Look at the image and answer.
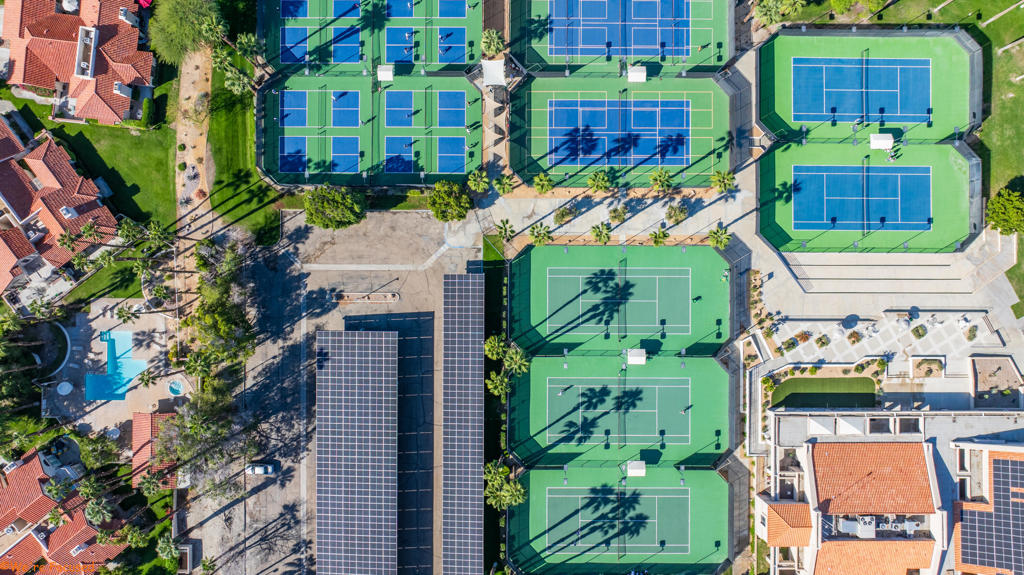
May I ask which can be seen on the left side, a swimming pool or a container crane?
swimming pool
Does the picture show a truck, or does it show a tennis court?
tennis court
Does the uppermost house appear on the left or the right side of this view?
left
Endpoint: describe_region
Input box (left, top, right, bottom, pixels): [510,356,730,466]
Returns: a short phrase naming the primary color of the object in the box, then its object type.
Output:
green tennis court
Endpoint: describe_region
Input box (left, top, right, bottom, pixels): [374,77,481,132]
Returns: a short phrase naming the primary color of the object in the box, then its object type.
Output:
green sports court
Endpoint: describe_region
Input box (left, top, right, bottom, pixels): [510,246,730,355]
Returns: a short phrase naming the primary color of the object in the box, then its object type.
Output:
green tennis court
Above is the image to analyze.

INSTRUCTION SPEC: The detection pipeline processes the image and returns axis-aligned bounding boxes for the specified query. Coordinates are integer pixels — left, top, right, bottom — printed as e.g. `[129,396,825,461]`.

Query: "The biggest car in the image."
[243,464,273,478]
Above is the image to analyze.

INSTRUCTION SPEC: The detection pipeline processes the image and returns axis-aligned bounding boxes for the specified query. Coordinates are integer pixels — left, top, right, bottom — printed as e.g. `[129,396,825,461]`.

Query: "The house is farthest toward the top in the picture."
[6,0,157,124]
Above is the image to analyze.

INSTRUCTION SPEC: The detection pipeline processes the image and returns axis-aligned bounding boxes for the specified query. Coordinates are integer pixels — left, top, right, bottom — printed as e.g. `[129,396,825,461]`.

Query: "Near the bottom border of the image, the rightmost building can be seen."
[757,402,1024,575]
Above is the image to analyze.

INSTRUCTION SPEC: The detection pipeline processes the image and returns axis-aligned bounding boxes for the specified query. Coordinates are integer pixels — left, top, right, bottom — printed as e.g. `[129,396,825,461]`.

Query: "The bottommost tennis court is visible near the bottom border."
[510,466,730,575]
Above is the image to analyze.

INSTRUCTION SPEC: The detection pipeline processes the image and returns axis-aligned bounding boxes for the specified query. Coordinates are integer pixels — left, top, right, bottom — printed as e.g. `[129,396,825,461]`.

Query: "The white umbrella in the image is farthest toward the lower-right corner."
[893,316,911,332]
